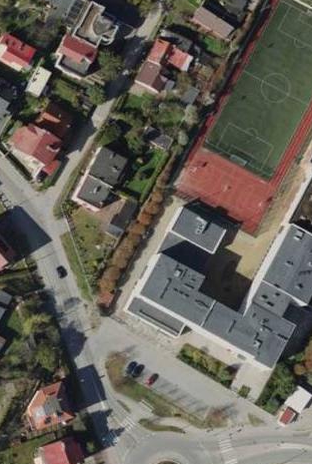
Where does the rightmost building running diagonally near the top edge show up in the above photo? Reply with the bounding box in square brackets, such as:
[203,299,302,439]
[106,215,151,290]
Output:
[192,5,234,40]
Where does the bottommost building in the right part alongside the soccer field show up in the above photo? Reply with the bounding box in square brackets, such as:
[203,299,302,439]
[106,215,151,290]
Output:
[124,173,312,368]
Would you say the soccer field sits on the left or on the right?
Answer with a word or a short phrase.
right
